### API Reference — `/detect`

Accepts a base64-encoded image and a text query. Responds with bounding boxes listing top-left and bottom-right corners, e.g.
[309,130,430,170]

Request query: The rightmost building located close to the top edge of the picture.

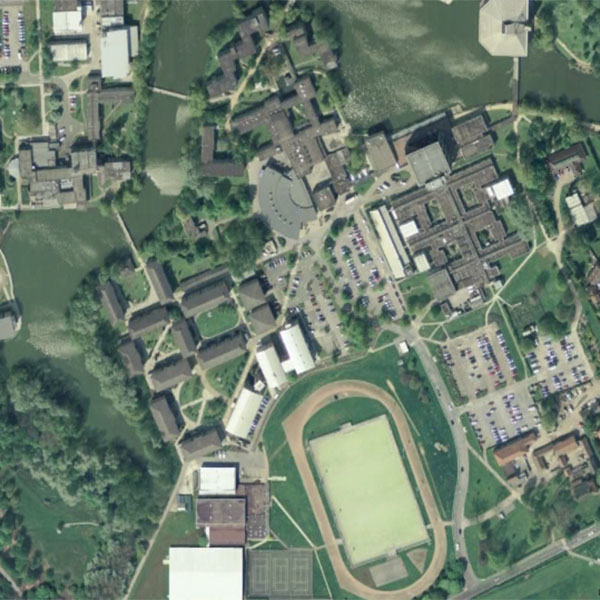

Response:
[478,0,531,57]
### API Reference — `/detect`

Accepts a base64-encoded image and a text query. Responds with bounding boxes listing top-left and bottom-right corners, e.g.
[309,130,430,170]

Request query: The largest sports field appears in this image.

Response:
[309,414,431,568]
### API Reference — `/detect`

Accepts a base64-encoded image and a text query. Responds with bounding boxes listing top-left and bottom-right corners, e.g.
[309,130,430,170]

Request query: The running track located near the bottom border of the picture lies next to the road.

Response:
[282,381,446,600]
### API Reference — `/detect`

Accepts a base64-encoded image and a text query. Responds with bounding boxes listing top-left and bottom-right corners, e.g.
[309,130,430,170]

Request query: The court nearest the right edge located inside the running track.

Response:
[370,558,408,587]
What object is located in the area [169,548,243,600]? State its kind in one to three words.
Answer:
building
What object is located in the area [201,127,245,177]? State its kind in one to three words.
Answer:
house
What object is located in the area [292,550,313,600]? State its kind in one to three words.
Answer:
tennis court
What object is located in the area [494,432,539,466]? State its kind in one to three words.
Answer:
barn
